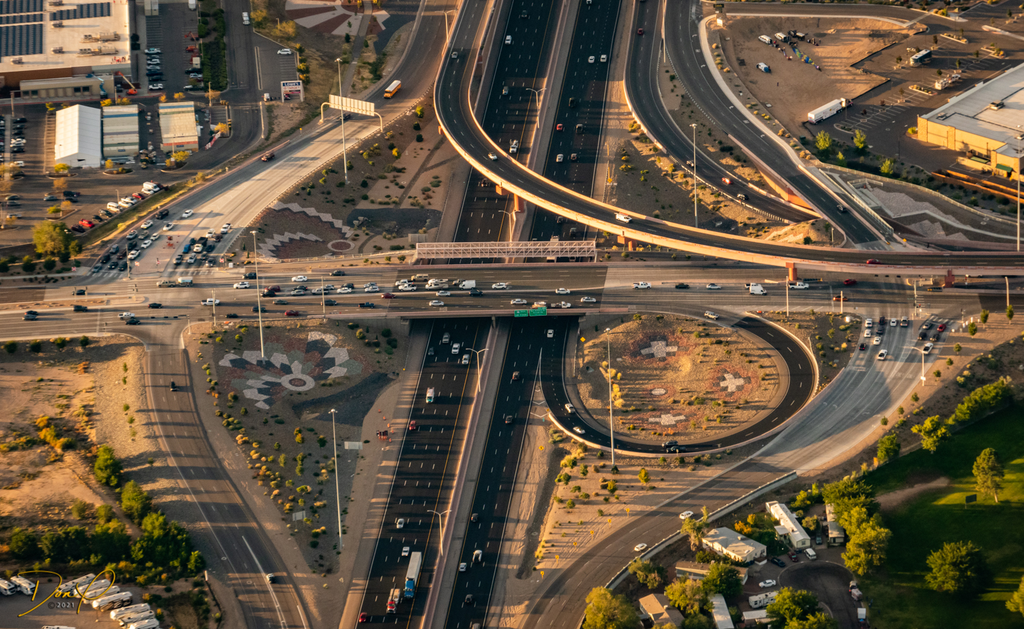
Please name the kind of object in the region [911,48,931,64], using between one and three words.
camper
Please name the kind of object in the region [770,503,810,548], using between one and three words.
house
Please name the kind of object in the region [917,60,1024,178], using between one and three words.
building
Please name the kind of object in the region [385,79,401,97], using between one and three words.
vehicle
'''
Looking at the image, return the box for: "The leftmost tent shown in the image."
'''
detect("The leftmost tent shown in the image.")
[54,104,101,168]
